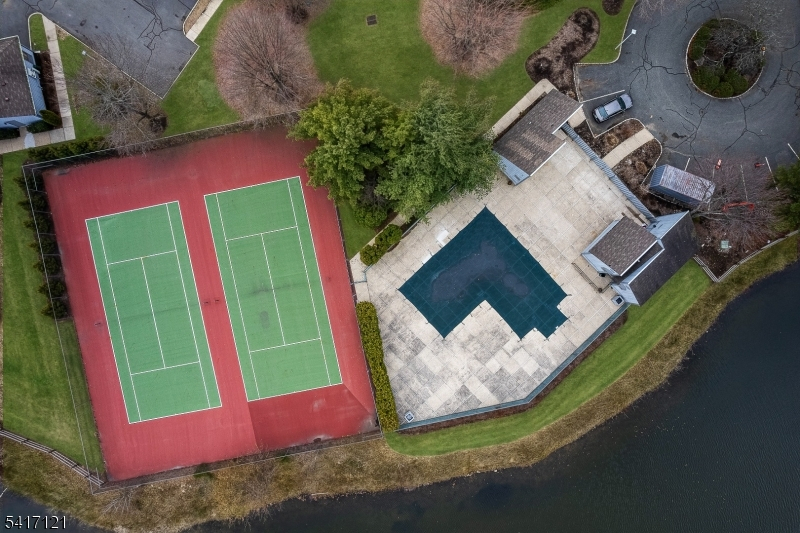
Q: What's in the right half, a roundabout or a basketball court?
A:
roundabout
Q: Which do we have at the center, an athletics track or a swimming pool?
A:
swimming pool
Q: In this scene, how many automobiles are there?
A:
one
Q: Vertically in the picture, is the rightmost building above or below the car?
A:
below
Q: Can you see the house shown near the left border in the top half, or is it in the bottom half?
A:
top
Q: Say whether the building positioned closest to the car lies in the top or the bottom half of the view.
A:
top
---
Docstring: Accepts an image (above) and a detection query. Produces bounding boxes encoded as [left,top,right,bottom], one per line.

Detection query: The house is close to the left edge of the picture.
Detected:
[0,34,47,132]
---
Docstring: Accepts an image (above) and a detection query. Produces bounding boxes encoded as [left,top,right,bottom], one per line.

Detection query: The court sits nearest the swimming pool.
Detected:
[204,177,342,402]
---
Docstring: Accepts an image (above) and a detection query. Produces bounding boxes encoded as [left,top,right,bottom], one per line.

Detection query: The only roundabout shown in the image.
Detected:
[684,16,766,98]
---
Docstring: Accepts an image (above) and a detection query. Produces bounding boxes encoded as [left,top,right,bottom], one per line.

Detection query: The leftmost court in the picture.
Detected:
[85,201,222,424]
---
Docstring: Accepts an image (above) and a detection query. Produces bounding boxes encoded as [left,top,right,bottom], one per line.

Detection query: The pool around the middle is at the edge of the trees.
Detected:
[398,204,570,342]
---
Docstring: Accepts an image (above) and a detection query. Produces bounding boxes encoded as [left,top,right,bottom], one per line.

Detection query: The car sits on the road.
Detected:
[592,94,634,122]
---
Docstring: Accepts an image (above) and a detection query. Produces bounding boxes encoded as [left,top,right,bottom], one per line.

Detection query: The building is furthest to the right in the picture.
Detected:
[584,210,699,306]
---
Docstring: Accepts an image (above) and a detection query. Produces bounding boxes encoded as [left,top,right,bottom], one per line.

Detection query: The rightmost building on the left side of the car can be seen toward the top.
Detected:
[491,91,584,182]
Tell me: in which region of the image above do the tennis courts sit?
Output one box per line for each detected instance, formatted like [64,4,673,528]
[204,177,342,402]
[85,201,222,424]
